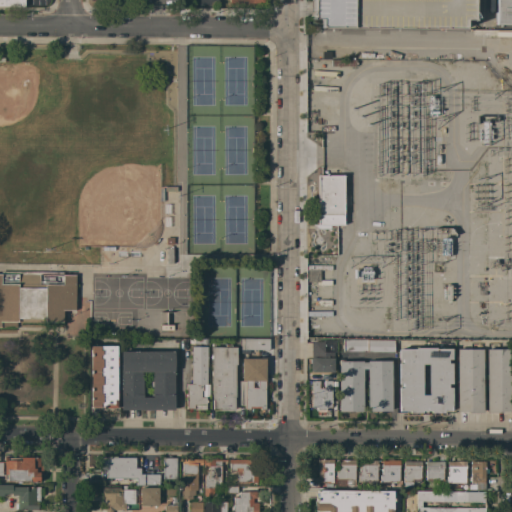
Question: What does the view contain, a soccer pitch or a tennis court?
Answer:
tennis court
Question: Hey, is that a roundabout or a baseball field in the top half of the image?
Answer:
baseball field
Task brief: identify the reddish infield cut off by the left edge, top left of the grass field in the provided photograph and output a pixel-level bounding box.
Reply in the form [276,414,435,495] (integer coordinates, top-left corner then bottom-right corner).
[0,62,40,126]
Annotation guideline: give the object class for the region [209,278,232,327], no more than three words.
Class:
tennis court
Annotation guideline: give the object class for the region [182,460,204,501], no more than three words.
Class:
house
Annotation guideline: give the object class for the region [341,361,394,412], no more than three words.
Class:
building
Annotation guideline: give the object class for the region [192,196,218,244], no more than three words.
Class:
tennis court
